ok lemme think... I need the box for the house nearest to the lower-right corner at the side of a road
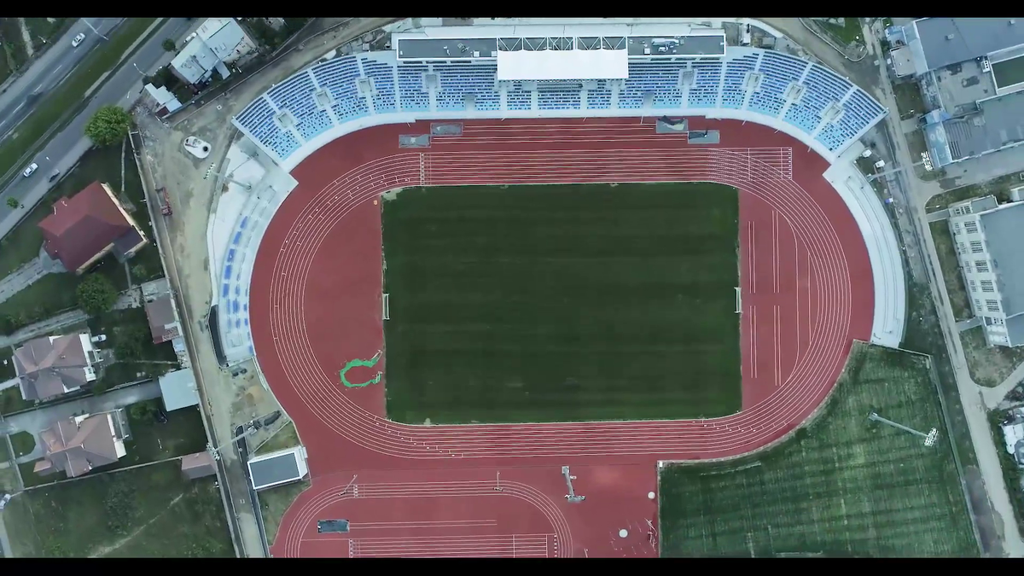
[995,421,1024,465]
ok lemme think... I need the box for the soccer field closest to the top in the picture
[380,182,743,425]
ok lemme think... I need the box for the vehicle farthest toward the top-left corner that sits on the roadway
[71,32,84,45]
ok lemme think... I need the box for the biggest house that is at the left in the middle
[38,181,153,274]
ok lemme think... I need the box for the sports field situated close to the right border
[659,342,983,576]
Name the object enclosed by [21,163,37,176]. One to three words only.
vehicle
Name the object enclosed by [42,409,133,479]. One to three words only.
house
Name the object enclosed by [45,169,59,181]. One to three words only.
vehicle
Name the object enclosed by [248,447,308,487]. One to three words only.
building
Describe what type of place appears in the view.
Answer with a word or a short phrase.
sports ground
